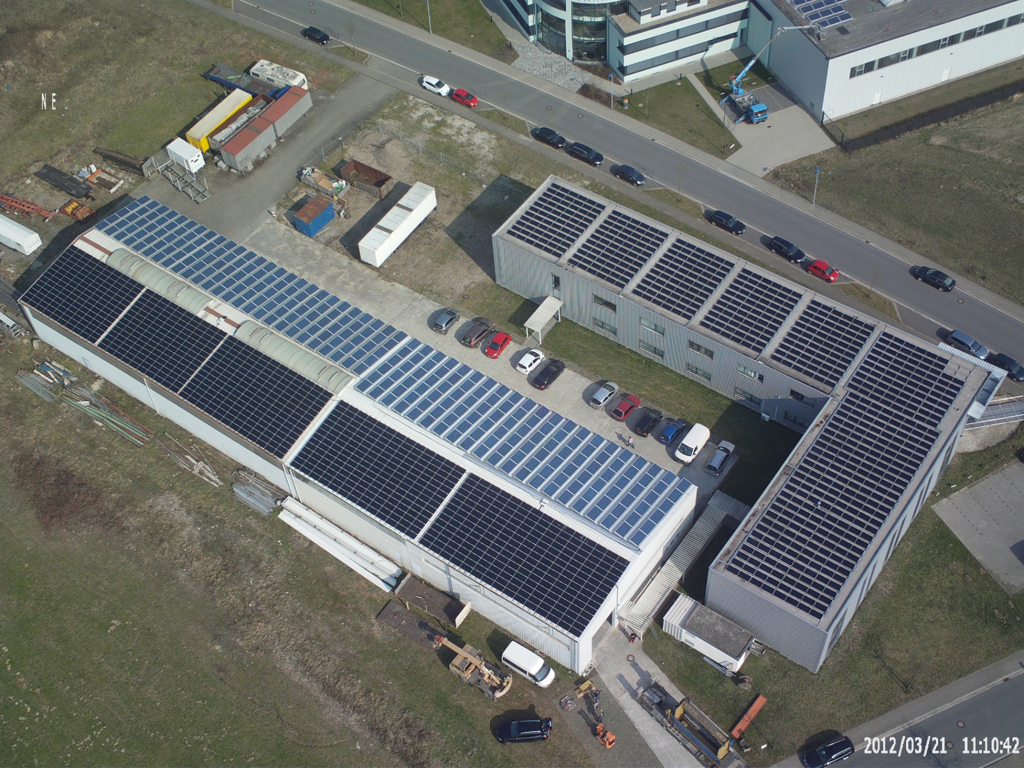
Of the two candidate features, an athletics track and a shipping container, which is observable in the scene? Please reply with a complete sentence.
It is a shipping container that can be seen here.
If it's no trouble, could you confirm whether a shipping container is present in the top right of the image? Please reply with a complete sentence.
No, the scene shows no shipping container in the top right of the image.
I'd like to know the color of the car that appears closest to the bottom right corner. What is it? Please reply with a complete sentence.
The car that appears closest to the bottom right corner looks black in the image.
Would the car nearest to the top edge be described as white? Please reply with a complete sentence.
No, the color of the car nearest to the top edge is black.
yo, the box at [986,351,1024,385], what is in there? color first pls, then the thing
black car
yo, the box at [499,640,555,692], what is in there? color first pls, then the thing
white van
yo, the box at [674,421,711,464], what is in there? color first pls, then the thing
white van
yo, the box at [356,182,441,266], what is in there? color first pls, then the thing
white trailer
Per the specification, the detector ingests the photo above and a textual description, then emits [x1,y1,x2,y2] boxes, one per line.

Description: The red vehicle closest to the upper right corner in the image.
[806,259,840,285]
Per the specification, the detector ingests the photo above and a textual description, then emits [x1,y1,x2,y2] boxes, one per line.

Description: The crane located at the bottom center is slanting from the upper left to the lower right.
[434,634,510,697]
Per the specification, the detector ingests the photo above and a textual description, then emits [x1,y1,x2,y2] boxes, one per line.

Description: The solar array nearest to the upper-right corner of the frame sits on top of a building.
[789,0,852,29]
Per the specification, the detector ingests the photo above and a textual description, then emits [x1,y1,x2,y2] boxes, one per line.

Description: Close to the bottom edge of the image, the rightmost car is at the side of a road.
[800,732,858,768]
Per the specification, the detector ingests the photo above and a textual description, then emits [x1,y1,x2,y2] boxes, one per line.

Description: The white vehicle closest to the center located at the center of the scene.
[514,347,546,377]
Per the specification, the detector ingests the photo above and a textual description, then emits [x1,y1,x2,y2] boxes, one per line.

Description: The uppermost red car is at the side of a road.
[450,88,480,109]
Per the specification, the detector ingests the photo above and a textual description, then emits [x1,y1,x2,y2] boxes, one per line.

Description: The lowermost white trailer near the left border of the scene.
[0,215,42,257]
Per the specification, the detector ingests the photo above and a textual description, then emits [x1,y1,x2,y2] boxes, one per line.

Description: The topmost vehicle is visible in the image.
[301,25,334,48]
